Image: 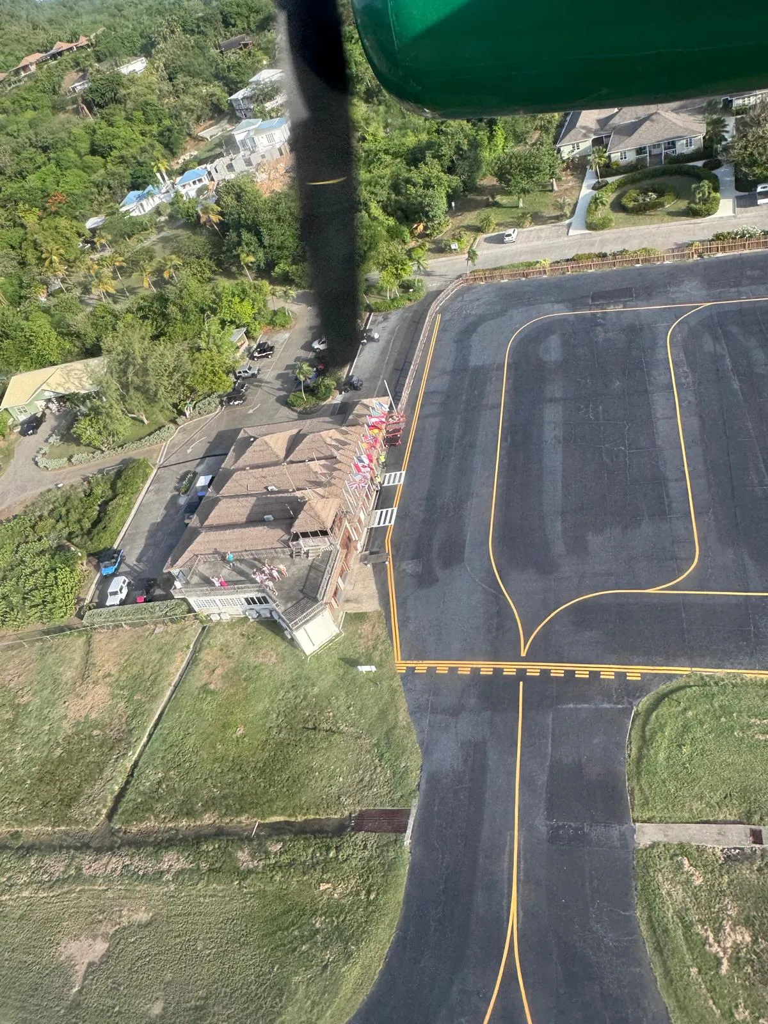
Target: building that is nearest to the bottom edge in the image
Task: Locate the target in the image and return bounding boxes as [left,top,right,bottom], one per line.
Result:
[166,391,391,658]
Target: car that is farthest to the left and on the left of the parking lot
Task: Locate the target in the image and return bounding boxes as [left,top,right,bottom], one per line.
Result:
[20,415,39,434]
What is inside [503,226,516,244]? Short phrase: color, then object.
white vehicle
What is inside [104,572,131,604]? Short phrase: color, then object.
white car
